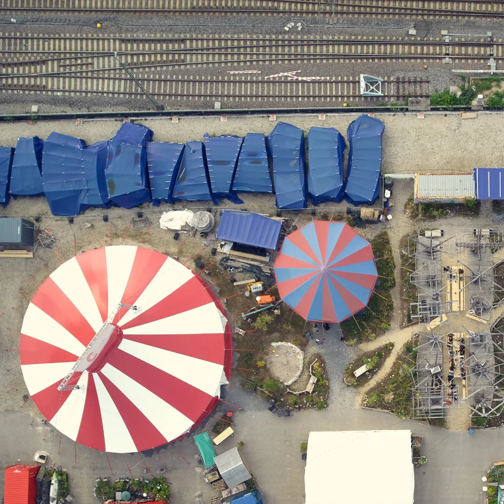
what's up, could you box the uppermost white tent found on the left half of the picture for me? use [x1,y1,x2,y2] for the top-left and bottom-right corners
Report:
[13,227,255,472]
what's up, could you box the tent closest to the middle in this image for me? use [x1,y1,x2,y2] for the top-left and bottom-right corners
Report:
[258,211,392,343]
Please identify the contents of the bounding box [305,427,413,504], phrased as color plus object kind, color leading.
white tent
